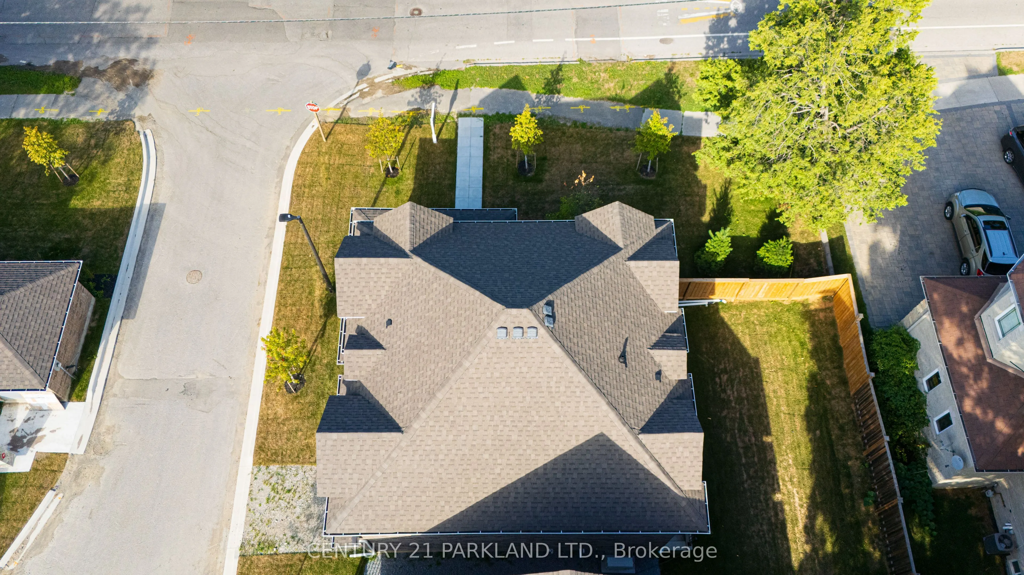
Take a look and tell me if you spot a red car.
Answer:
No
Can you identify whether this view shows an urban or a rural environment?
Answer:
urban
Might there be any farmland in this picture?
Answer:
No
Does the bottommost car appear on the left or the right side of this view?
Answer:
right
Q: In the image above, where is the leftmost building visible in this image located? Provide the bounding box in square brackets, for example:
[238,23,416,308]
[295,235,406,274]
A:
[0,260,98,403]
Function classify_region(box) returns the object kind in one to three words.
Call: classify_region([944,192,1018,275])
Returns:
car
